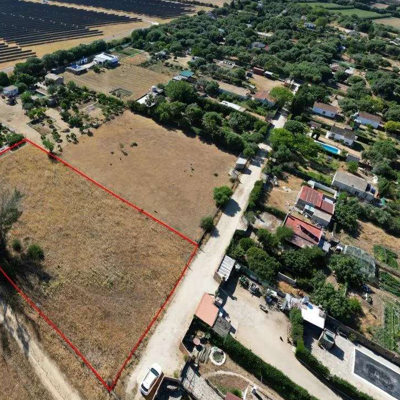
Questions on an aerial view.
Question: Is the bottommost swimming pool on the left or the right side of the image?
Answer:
right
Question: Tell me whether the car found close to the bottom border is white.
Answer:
Yes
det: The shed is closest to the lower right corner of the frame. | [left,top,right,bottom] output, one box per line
[315,326,338,348]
